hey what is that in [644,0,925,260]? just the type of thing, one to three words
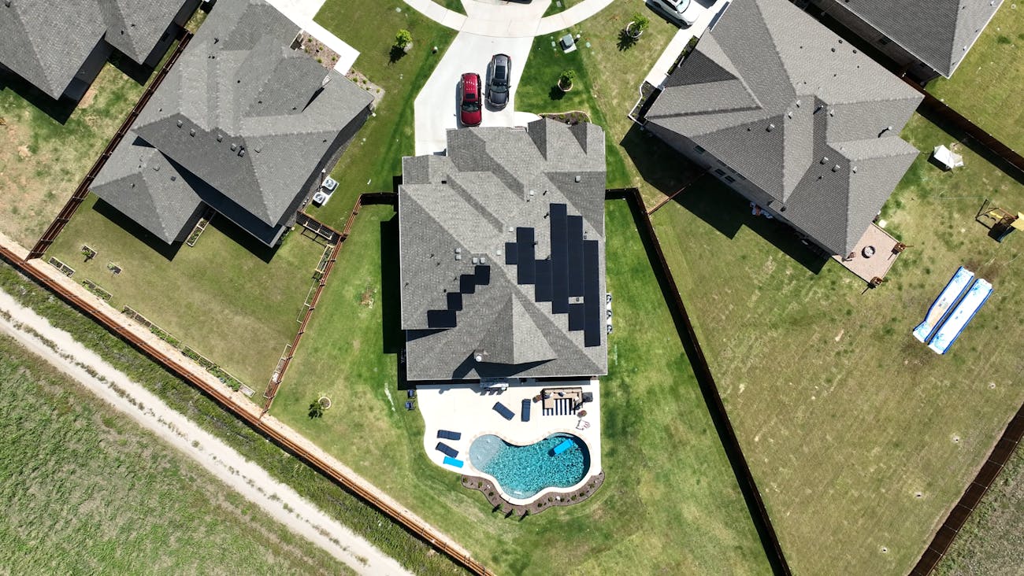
house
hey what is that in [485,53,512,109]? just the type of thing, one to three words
car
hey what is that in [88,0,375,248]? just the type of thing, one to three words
house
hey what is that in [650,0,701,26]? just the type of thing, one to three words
car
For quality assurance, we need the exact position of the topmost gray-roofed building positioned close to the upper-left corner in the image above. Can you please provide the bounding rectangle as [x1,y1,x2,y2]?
[0,0,198,102]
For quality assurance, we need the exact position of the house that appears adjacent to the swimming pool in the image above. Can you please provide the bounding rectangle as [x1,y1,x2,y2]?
[398,118,608,381]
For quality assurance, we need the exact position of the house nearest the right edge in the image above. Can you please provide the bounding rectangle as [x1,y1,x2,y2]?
[811,0,1004,81]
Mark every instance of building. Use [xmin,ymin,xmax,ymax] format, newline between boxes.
[0,0,198,102]
[88,0,375,248]
[811,0,1004,81]
[398,118,608,381]
[644,0,925,260]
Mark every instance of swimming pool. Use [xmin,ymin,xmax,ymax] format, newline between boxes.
[467,429,594,503]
